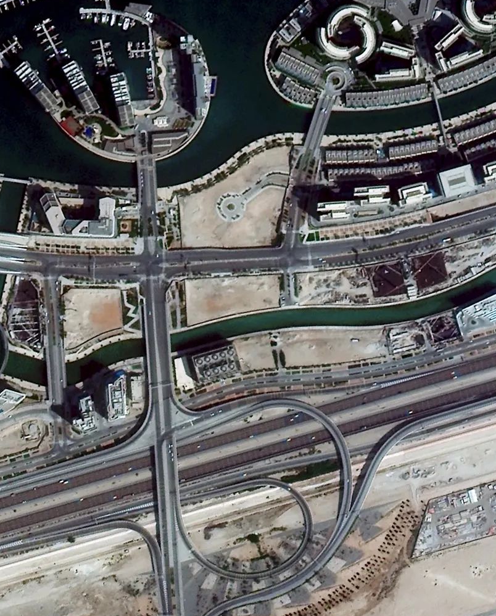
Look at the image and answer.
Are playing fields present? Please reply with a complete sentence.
No, there's no playing field here.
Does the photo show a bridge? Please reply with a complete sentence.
Yes, there is a bridge in the image.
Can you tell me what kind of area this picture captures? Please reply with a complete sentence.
This image shows a residential area.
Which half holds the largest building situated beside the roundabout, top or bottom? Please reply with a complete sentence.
The top half of the photo is where the largest building situated beside the roundabout is.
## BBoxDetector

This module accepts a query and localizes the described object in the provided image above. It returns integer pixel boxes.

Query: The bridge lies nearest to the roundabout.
[296,91,336,172]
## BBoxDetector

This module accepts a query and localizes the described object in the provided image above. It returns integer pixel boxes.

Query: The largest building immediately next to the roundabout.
[313,5,377,65]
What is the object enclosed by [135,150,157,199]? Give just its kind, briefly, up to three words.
bridge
